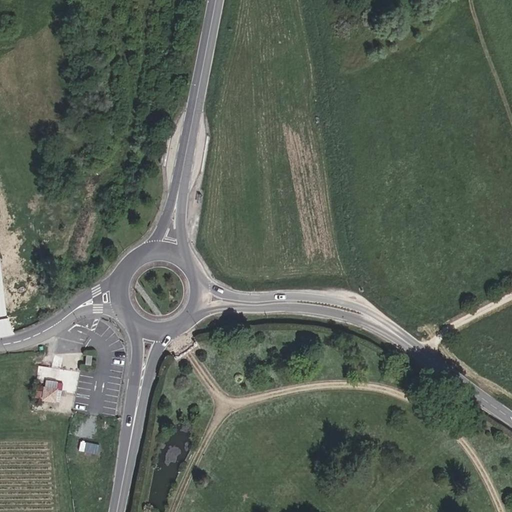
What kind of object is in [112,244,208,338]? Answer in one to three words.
roundabout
